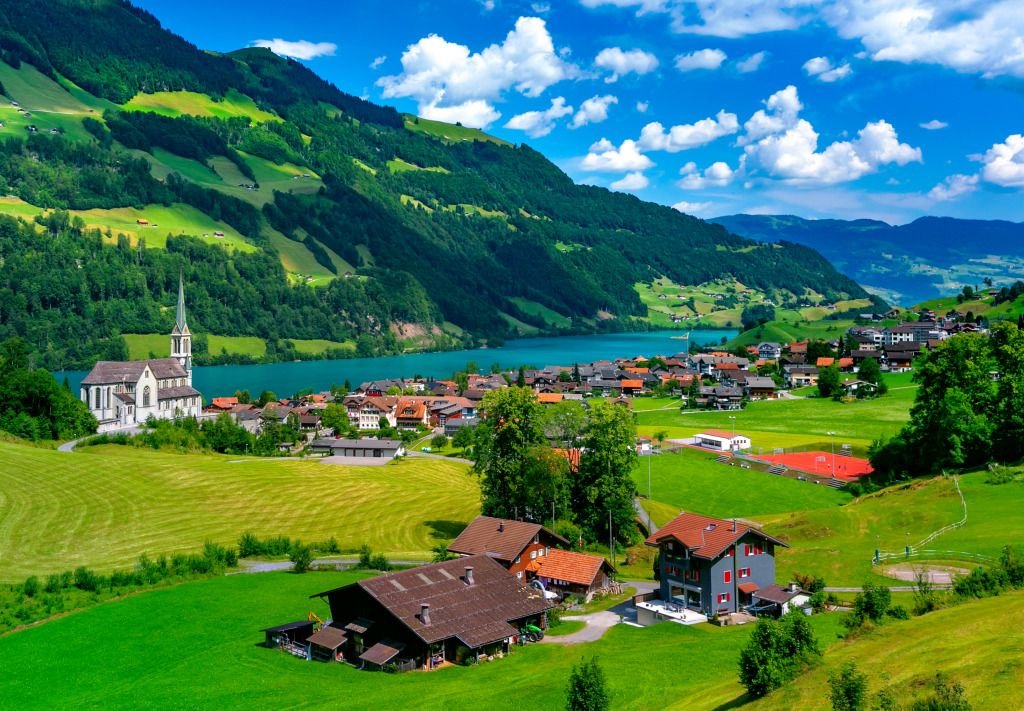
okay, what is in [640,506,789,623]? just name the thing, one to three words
house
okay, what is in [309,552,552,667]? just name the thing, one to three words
barn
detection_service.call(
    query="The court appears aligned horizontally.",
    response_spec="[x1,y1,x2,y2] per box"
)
[752,449,871,481]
